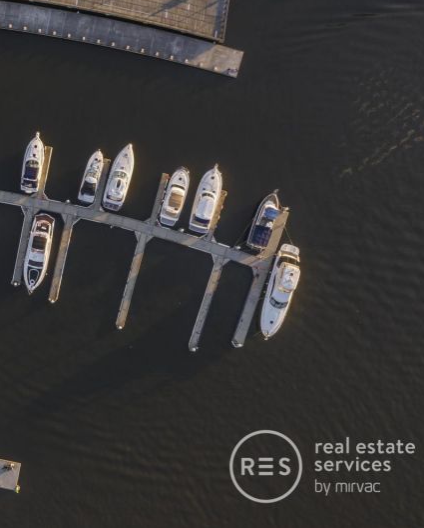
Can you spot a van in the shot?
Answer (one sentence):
No, the scene contains no van.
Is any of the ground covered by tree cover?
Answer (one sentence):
No, there is no tree cover in the image.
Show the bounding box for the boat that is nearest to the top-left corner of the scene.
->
[20,130,45,193]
